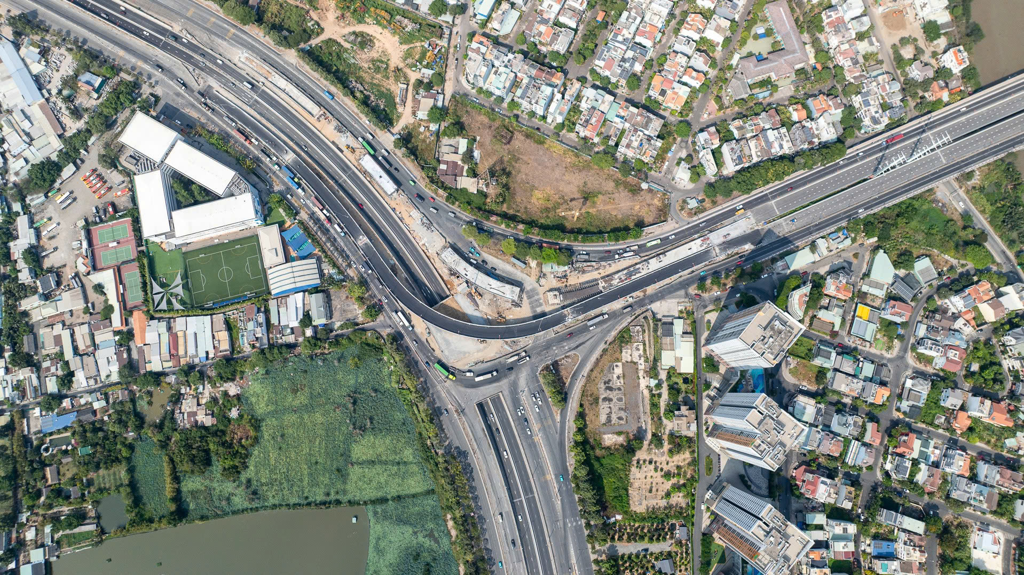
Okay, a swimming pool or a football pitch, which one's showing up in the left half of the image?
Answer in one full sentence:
There is a football pitch in the left half of the image.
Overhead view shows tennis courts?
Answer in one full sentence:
Yes, this view includes a tennis court.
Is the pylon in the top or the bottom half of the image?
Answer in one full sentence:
The top half of the photo is where the pylon is.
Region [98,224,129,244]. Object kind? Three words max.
tennis court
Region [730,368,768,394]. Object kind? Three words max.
swimming pool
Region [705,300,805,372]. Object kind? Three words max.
building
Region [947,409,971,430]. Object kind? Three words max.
house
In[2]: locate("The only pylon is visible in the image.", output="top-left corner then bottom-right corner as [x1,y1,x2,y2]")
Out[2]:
[471,172,492,196]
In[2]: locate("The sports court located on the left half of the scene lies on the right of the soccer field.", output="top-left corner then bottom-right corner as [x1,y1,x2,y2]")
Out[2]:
[283,224,319,262]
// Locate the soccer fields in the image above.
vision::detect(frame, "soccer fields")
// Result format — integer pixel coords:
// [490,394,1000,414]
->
[182,237,269,310]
